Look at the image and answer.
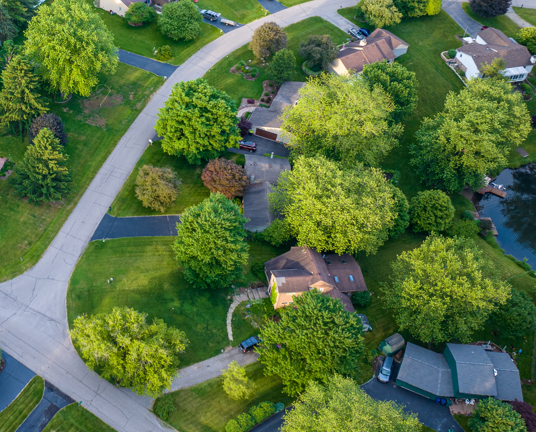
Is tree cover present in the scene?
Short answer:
Yes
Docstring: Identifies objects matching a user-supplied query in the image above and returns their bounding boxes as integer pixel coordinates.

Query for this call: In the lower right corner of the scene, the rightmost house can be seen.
[393,338,523,416]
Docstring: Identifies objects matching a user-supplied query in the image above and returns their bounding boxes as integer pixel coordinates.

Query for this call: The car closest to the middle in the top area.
[237,139,260,152]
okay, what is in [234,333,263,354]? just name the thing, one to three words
vehicle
